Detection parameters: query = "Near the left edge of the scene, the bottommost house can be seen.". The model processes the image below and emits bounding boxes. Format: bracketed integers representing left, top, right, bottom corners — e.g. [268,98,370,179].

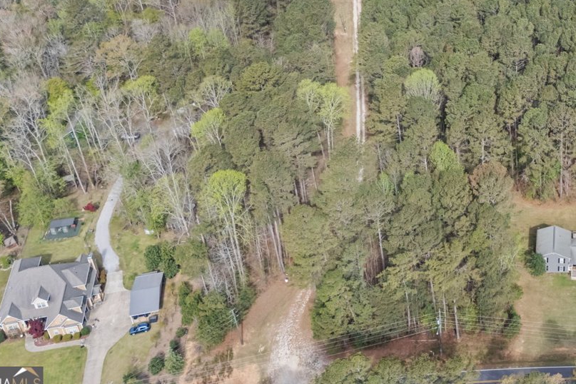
[0,250,113,339]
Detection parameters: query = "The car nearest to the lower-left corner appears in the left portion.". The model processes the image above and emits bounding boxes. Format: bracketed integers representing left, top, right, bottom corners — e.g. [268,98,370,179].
[127,321,151,335]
